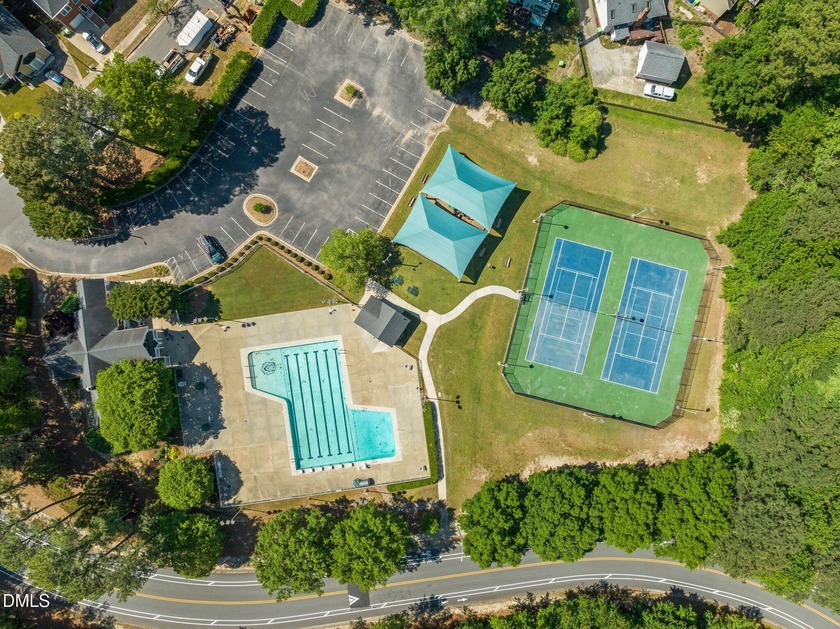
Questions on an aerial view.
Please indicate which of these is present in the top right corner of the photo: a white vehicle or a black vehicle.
white vehicle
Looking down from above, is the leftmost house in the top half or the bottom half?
top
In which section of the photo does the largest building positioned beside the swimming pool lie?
left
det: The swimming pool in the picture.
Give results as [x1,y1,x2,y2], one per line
[240,335,402,476]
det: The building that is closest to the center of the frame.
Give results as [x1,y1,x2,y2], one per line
[354,295,411,346]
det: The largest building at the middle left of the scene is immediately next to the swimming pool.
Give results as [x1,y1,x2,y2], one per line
[44,279,180,388]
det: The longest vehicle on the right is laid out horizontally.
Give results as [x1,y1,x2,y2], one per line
[645,82,678,98]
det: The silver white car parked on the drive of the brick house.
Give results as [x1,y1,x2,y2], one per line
[80,30,107,56]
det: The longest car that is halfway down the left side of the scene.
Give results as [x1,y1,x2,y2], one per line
[201,233,224,264]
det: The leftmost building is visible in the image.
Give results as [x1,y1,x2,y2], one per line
[0,2,68,103]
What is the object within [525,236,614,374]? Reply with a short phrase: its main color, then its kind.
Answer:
blue tennis court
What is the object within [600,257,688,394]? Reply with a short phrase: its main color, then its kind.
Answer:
blue tennis court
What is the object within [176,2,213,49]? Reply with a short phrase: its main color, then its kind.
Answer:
white trailer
